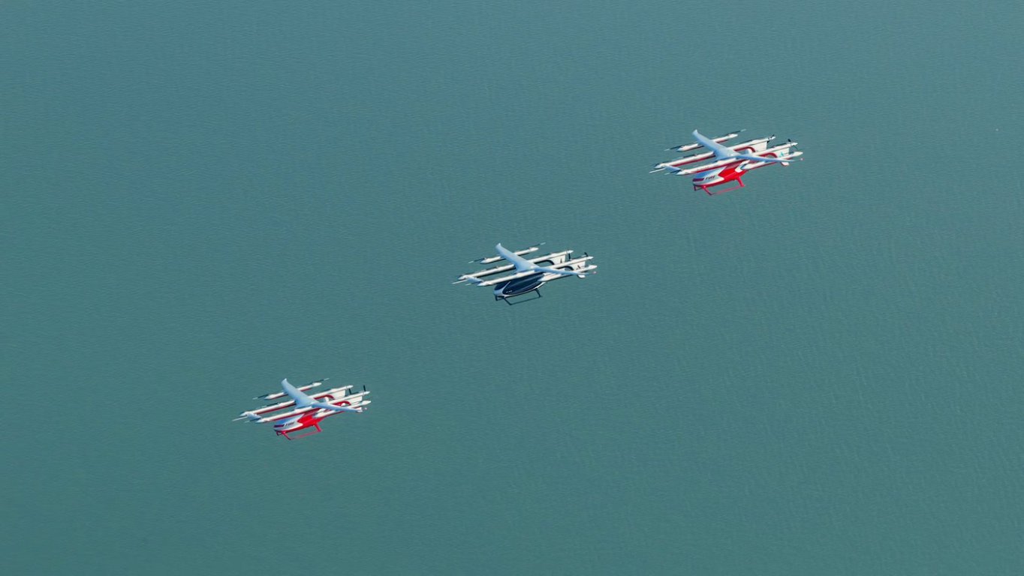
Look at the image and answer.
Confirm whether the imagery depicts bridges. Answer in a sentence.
No, the photo shows no bridge.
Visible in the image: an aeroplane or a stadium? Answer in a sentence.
This aerial view contains an aeroplane.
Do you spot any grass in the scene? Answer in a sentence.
No, the picture contains no grass.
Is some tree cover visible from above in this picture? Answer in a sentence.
No, tree cover can't be seen anywhere here.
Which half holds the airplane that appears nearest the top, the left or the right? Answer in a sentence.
The airplane that appears nearest the top is on the right side of the image.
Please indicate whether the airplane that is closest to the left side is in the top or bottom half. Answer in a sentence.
It is in the bottom half that the airplane that is closest to the left side appears.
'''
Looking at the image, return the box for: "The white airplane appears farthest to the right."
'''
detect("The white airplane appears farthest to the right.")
[645,129,809,196]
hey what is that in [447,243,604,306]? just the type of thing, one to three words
airplane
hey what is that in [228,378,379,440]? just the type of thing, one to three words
airplane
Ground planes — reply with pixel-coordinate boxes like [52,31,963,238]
[645,129,809,196]
[447,243,604,306]
[228,378,379,440]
